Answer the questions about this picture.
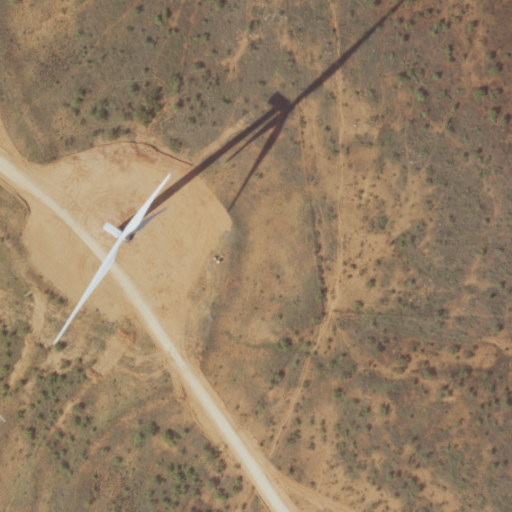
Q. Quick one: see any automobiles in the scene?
No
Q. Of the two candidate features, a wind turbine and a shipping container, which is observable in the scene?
wind turbine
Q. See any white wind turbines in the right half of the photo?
No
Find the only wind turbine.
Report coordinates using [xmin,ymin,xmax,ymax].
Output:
[54,174,169,344]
